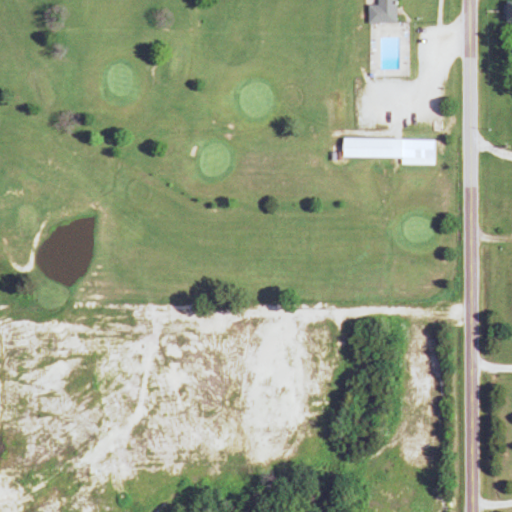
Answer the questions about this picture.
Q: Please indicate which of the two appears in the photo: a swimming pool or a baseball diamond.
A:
swimming pool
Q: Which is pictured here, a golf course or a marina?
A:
golf course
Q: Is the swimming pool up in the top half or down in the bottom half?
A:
top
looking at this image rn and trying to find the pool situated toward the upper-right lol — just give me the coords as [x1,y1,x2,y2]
[370,23,410,78]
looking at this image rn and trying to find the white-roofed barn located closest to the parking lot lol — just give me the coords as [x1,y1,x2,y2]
[344,138,436,166]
